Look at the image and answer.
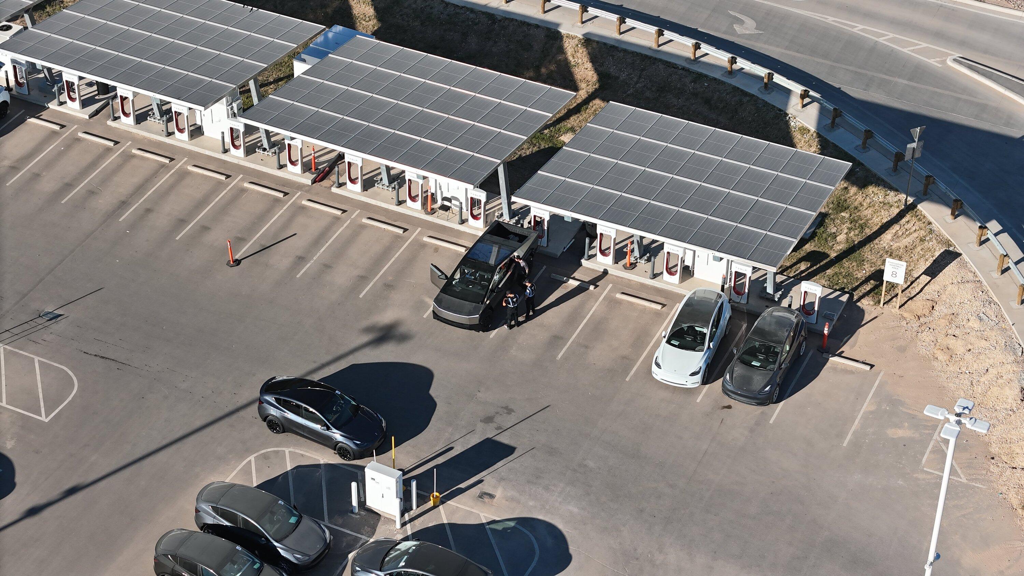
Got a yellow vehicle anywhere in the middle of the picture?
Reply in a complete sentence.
No, there is no yellow vehicle in the middle of the picture.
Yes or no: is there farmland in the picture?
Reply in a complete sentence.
No, there's no farmland in this view.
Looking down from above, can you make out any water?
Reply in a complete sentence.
No, there's no water in this view.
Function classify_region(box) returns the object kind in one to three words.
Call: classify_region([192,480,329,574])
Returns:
car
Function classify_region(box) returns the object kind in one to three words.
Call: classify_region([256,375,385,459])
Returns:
car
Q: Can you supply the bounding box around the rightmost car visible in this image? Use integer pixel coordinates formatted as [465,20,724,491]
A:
[723,312,809,410]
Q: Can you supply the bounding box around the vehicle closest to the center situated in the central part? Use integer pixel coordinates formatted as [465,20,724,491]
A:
[422,221,539,332]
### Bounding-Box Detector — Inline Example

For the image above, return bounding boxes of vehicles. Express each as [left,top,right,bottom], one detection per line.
[0,84,11,119]
[723,312,809,410]
[192,480,329,574]
[256,375,385,459]
[349,533,494,576]
[151,528,285,576]
[422,221,539,332]
[653,293,732,390]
